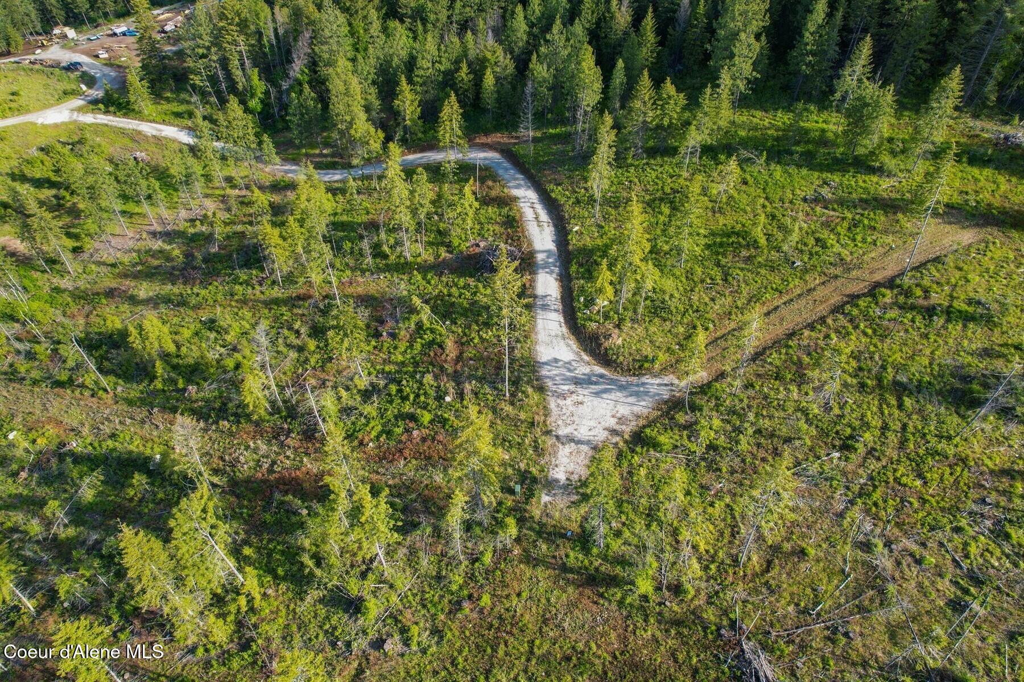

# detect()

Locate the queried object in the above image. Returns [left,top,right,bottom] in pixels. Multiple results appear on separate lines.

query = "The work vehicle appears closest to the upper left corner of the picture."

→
[32,34,50,47]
